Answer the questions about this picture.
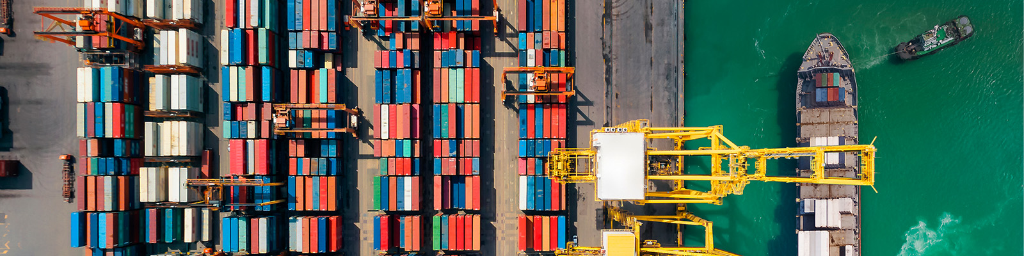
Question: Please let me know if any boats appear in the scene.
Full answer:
Yes, a boat can be made out from above.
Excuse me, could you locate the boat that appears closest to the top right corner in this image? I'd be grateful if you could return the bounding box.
[894,17,975,59]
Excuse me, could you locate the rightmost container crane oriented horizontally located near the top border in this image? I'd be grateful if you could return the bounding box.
[423,0,501,39]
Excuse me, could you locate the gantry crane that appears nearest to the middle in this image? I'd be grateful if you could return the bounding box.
[502,64,574,108]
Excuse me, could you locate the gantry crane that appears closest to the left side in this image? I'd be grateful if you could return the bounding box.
[33,7,144,53]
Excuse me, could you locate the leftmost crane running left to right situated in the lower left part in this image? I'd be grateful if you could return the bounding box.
[188,174,285,209]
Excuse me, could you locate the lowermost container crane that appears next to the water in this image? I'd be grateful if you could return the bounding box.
[548,202,763,256]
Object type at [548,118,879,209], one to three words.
container crane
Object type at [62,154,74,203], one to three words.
vehicle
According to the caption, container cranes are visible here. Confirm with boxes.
[502,64,574,108]
[548,202,763,256]
[270,102,362,142]
[33,7,144,53]
[423,0,501,39]
[349,0,432,39]
[548,118,879,209]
